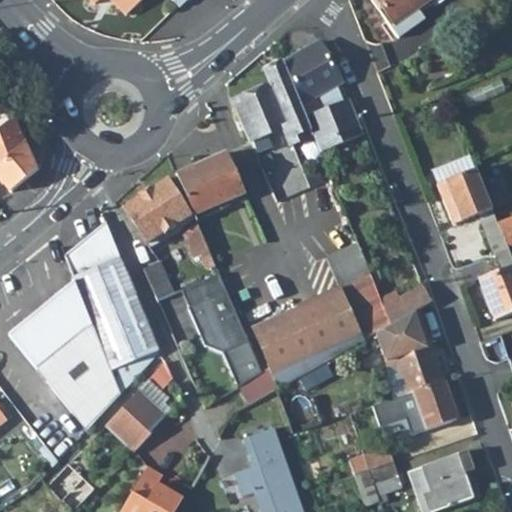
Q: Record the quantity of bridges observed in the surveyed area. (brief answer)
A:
none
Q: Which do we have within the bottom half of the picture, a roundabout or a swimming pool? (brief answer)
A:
swimming pool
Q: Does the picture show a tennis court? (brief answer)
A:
No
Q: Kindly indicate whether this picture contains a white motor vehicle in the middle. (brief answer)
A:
Yes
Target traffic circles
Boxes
[52,40,185,170]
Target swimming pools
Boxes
[292,398,318,422]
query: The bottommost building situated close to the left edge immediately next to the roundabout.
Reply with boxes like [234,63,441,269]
[9,225,160,428]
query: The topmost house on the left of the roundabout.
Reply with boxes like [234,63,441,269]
[0,112,40,192]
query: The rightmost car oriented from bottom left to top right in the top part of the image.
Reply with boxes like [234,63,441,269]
[210,49,233,70]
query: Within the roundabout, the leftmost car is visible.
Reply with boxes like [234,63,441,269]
[62,96,79,117]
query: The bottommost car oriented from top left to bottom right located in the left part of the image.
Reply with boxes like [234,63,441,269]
[58,413,78,435]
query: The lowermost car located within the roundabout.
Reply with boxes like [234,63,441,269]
[98,130,122,144]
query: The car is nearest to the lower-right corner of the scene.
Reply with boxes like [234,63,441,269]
[493,340,508,361]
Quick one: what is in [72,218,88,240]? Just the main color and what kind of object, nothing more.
white car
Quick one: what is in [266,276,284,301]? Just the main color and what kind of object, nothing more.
white vehicle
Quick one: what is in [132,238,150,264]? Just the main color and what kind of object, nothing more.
white vehicle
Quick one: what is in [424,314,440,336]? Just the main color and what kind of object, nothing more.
blue car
